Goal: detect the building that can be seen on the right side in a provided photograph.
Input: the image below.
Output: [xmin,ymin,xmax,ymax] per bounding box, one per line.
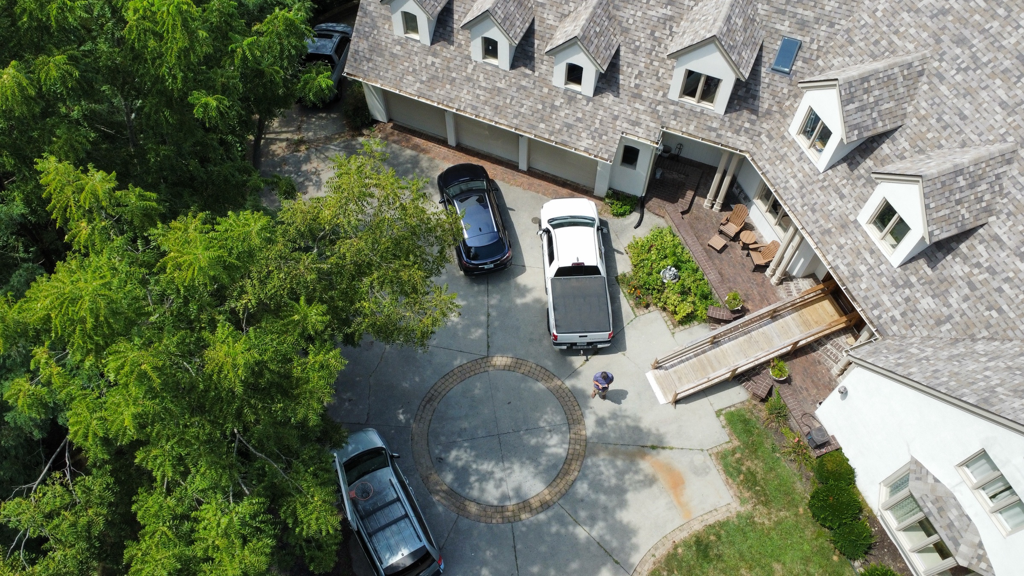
[344,0,1024,576]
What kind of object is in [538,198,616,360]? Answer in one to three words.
truck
